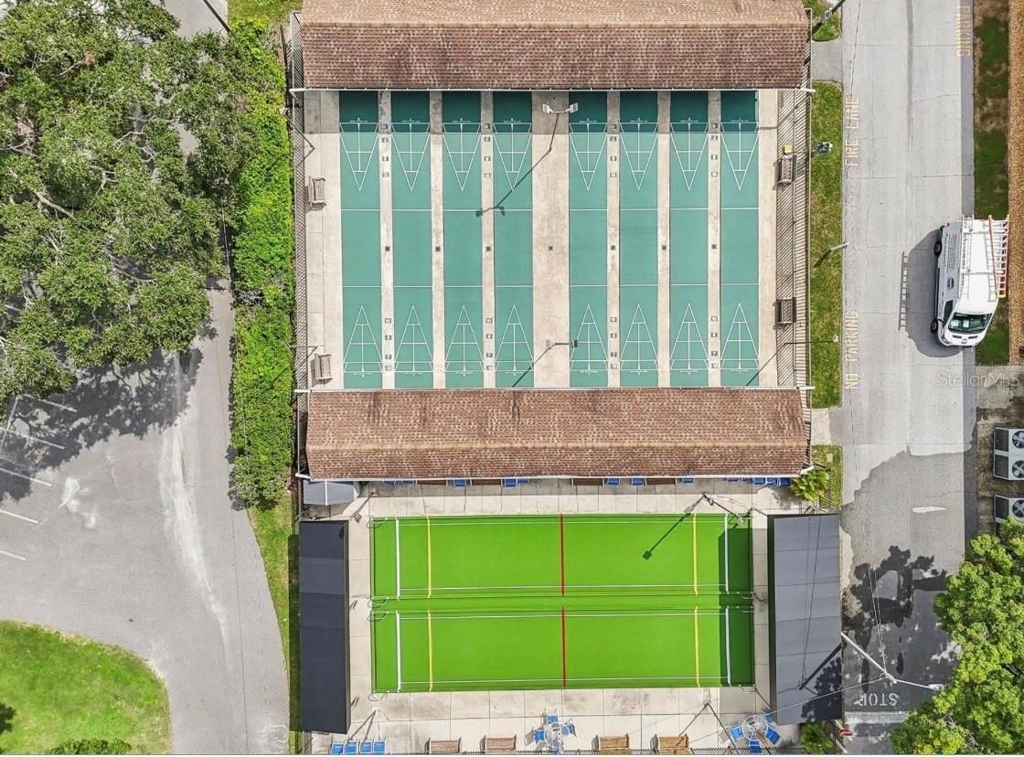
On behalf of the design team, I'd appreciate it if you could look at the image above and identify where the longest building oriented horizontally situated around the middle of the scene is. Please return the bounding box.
[295,387,814,482]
